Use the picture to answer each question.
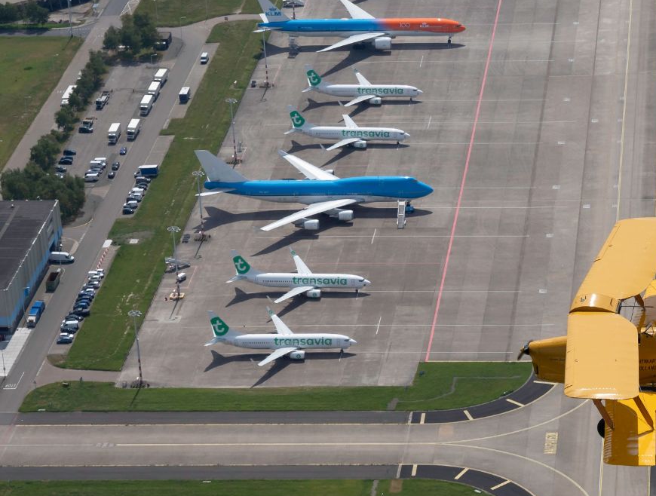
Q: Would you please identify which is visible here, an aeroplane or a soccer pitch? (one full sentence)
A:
Looking from above, you can make out an aeroplane.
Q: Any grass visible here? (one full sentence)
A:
Yes, the picture does contain grass.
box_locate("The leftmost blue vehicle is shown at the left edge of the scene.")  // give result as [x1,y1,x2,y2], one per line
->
[28,304,43,324]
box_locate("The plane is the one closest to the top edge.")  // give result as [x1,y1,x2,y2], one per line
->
[251,0,467,53]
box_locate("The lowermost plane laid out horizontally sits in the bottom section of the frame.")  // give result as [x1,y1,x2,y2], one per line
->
[205,306,357,367]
